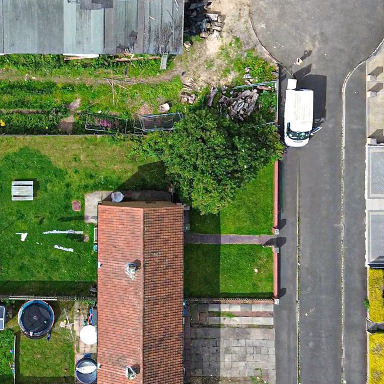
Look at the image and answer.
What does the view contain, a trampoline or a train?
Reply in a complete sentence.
I can see a trampoline in this picture.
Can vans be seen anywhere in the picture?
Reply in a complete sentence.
Yes, a van appears in the view.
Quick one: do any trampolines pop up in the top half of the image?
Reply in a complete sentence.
No, I see no trampoline in the top half of the image.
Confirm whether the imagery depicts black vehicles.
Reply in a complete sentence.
No, no black vehicle is visible in the view.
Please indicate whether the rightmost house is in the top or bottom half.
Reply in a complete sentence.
The rightmost house sits in the bottom half of the picture.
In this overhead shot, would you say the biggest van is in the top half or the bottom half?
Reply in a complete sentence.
The biggest van sits in the top half of the picture.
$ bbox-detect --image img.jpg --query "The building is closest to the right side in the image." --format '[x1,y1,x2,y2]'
[95,198,184,384]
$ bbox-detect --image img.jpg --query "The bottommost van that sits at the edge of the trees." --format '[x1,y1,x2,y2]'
[284,89,322,147]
